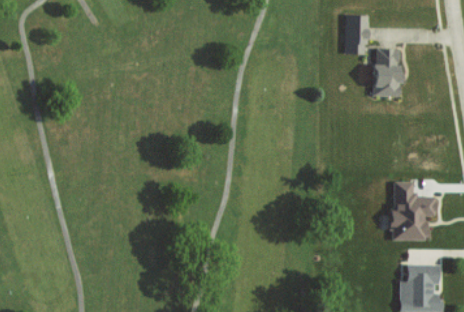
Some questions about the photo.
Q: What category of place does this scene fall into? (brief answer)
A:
golf course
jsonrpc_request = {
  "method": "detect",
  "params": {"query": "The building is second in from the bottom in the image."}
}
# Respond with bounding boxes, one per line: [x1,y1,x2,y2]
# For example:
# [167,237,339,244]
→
[392,182,440,242]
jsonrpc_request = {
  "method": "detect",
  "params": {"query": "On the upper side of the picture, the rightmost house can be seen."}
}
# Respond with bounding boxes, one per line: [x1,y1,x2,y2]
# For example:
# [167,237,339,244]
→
[374,49,406,98]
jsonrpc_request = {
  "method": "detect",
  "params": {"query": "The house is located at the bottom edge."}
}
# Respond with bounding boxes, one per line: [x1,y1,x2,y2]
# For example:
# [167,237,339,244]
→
[401,266,445,312]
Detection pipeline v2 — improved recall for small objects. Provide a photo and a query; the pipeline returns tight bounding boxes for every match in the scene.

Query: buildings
[345,15,362,56]
[392,182,440,242]
[374,49,406,98]
[401,266,445,312]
